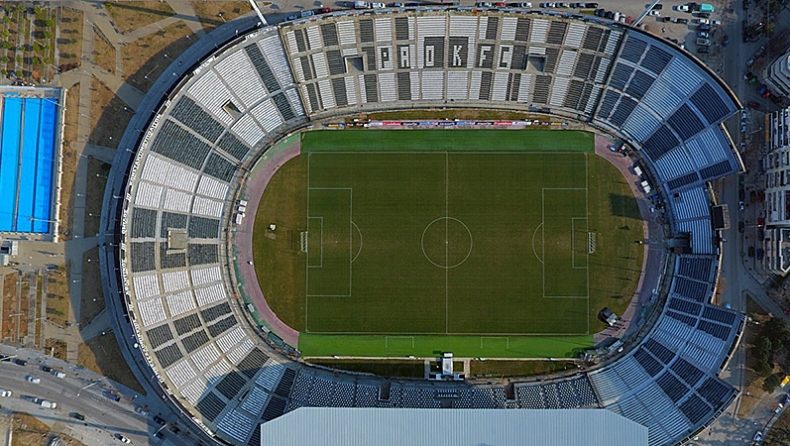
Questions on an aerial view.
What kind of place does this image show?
sports ground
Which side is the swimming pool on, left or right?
left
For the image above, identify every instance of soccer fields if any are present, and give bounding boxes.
[299,131,596,357]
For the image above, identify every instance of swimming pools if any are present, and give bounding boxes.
[0,86,67,242]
